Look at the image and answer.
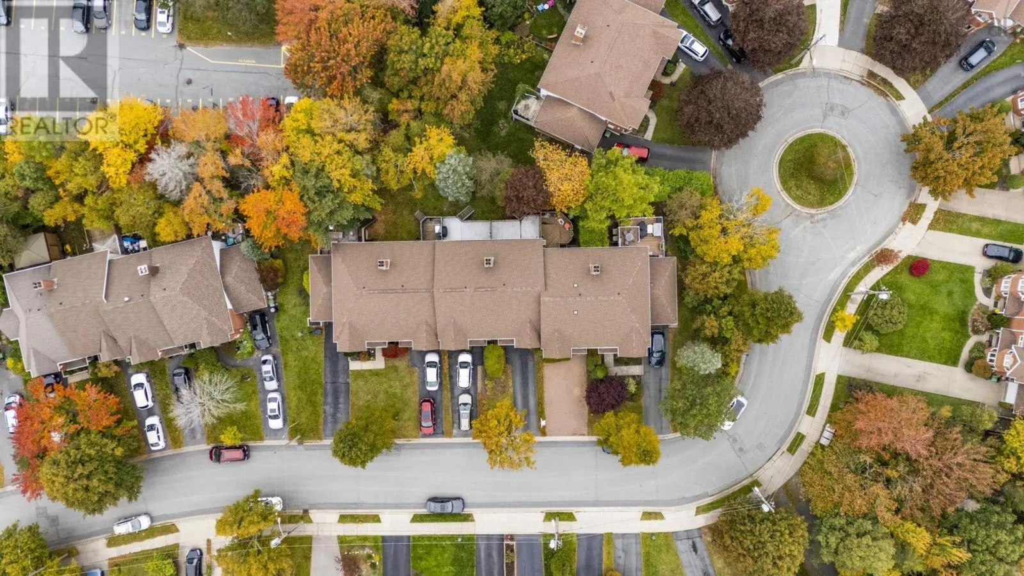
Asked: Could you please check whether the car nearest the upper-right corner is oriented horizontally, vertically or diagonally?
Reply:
diagonally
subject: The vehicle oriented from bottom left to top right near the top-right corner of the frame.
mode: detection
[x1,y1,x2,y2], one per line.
[959,38,995,72]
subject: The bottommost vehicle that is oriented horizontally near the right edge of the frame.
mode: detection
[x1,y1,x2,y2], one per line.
[981,244,1021,263]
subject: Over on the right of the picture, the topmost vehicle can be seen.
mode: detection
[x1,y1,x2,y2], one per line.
[687,0,722,29]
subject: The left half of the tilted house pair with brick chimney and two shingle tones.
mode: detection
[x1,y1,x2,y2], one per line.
[0,249,123,378]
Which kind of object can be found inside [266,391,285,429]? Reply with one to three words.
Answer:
car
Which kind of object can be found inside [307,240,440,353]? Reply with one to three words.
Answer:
house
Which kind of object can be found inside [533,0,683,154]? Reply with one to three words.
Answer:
house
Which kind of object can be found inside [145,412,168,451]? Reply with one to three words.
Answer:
car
